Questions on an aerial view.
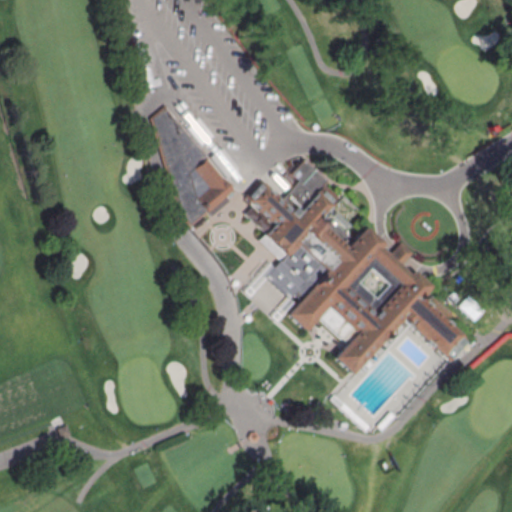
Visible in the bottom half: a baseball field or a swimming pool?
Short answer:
swimming pool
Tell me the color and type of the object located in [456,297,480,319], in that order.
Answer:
white tent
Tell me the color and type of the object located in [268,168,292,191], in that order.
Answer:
white truck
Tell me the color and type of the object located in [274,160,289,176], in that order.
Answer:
white vehicle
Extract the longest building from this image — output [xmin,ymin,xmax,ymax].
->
[246,163,474,374]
